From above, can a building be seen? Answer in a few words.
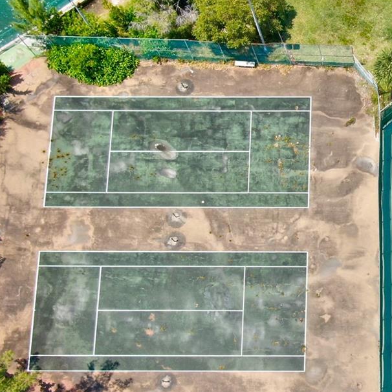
No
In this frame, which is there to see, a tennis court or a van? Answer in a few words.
tennis court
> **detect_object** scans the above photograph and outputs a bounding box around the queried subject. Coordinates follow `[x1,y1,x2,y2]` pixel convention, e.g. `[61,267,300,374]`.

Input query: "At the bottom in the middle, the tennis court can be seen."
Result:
[28,250,307,373]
